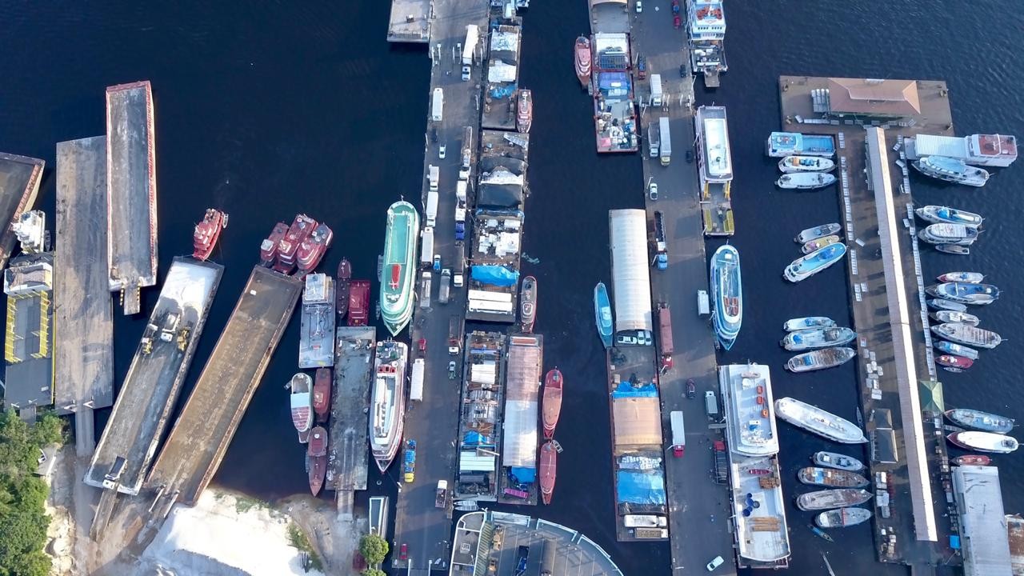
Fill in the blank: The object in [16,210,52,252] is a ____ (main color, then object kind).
white boat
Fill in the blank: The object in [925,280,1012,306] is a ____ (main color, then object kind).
blue boat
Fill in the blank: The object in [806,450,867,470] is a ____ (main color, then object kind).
blue boat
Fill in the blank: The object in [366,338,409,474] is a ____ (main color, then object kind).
white ship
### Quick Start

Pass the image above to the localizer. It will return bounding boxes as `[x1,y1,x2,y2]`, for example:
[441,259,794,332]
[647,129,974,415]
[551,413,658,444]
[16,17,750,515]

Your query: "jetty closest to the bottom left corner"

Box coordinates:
[367,497,388,541]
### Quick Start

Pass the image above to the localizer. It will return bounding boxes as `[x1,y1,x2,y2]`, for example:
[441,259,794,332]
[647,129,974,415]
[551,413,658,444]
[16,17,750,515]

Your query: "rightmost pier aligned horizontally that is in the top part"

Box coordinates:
[778,75,955,139]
